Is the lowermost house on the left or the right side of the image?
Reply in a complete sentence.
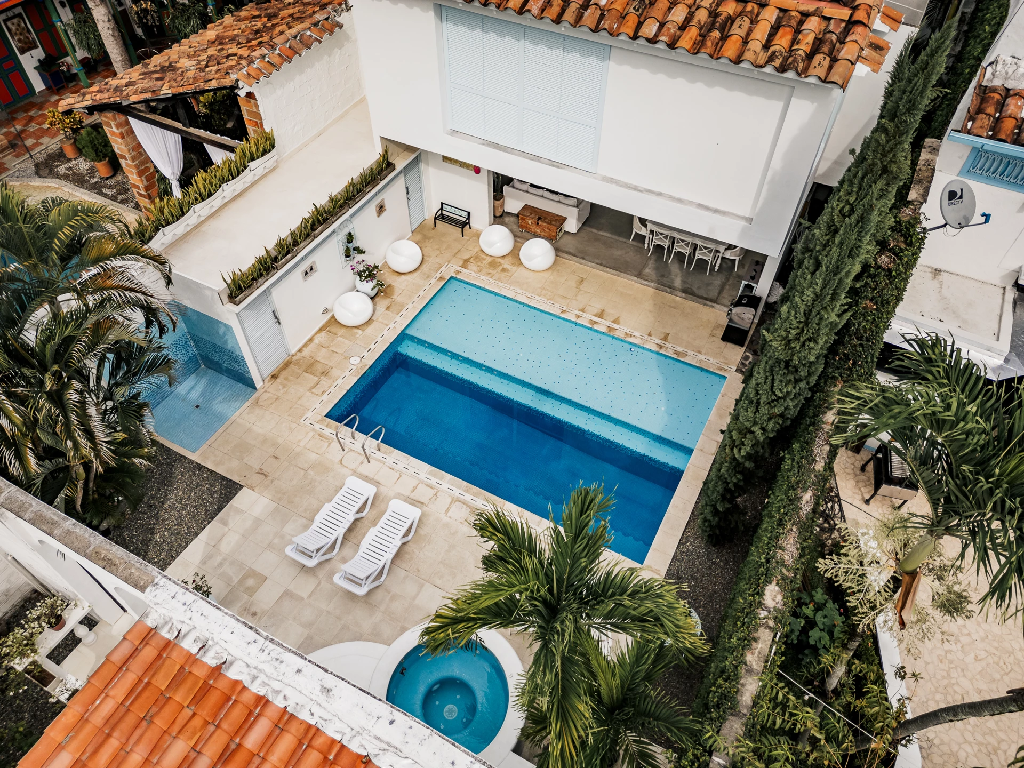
It is on the left.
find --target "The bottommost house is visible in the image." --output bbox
[41,609,411,768]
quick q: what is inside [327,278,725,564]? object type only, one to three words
swimming pool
